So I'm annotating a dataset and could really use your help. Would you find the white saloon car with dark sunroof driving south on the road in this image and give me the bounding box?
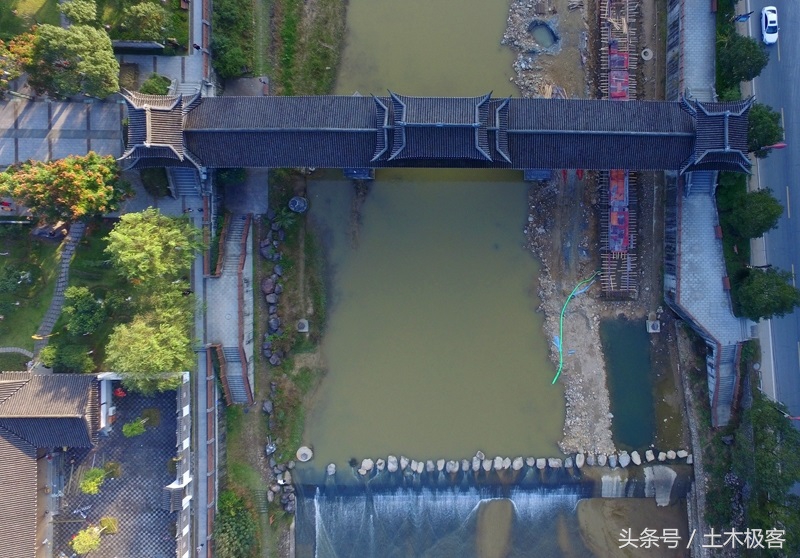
[758,5,780,47]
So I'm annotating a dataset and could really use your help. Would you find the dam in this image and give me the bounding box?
[298,466,687,499]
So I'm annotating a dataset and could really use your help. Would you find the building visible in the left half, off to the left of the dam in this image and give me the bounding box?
[0,370,102,558]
